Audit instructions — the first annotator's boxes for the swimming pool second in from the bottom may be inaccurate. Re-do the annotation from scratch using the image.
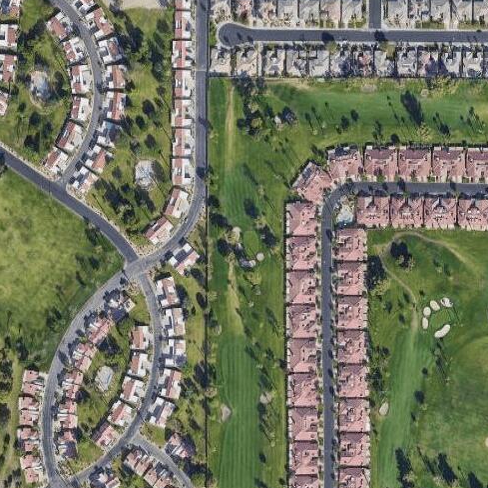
[338,204,356,228]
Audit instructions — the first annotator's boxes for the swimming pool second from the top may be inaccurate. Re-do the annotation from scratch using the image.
[135,159,155,189]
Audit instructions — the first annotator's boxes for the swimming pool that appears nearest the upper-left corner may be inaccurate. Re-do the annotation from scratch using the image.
[29,69,47,99]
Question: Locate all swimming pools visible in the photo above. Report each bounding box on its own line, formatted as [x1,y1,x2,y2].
[29,69,47,99]
[338,204,356,228]
[135,159,155,189]
[95,365,113,390]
